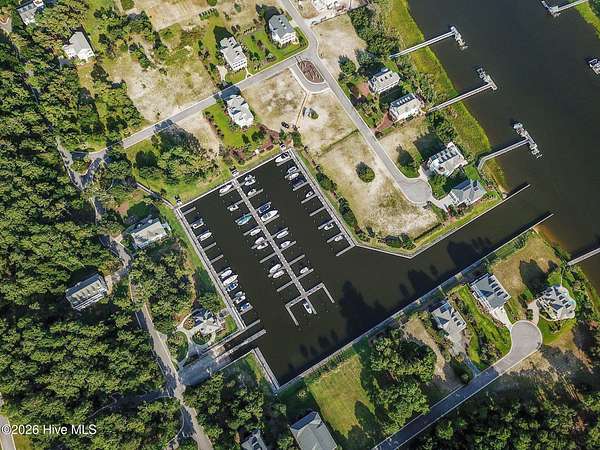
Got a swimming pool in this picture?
No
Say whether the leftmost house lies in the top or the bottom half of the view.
top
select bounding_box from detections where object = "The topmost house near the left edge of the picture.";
[16,0,47,29]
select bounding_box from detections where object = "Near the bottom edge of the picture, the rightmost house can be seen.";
[294,412,341,450]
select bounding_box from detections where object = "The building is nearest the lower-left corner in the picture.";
[67,275,111,308]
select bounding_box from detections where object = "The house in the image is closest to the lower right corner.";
[533,285,577,322]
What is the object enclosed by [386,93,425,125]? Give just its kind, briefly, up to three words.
house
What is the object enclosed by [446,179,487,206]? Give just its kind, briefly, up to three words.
house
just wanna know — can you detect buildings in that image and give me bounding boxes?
[315,0,346,14]
[64,32,101,64]
[465,271,507,308]
[244,427,273,450]
[294,412,341,450]
[190,306,230,338]
[425,144,468,176]
[219,34,250,77]
[270,13,296,50]
[67,275,111,308]
[124,215,172,250]
[429,297,465,339]
[226,94,254,130]
[446,179,487,206]
[386,93,425,125]
[533,285,577,322]
[16,0,47,29]
[363,68,401,100]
